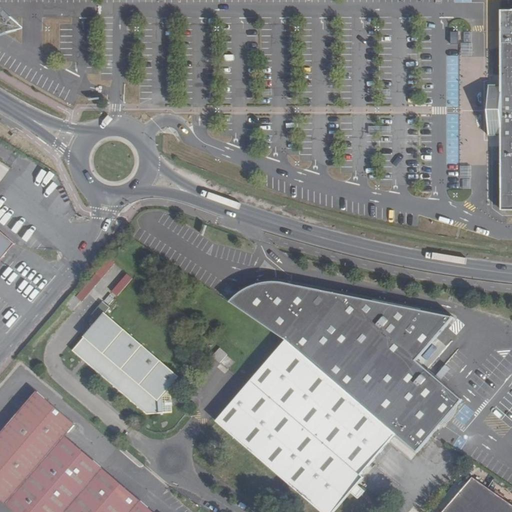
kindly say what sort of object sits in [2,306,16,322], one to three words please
vehicle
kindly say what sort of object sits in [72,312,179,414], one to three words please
building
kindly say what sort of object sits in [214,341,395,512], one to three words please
warehouse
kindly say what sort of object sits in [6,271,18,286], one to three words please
vehicle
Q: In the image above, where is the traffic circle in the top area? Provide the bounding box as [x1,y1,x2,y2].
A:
[90,136,138,186]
